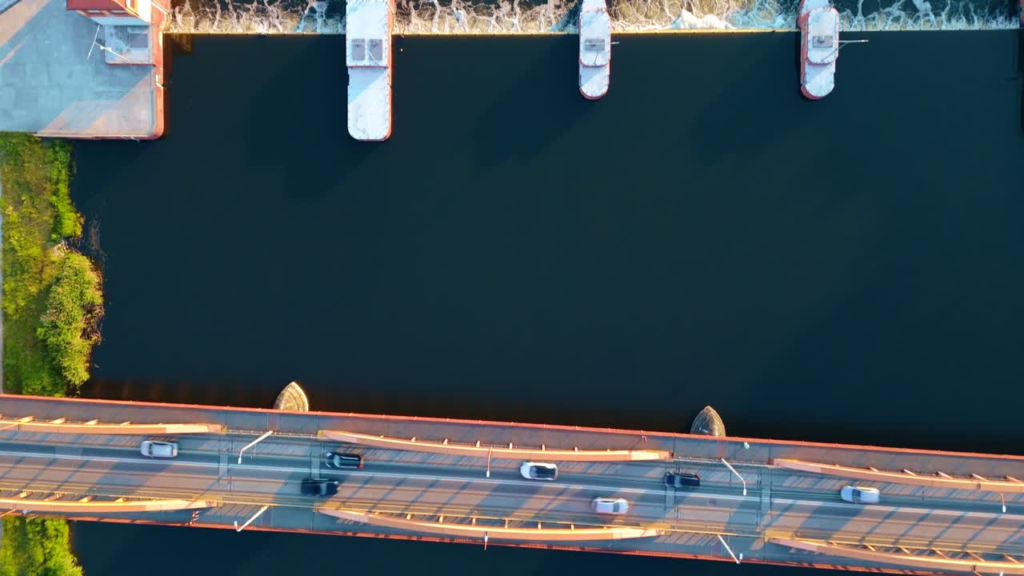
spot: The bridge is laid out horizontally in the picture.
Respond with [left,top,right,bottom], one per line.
[0,379,1024,576]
